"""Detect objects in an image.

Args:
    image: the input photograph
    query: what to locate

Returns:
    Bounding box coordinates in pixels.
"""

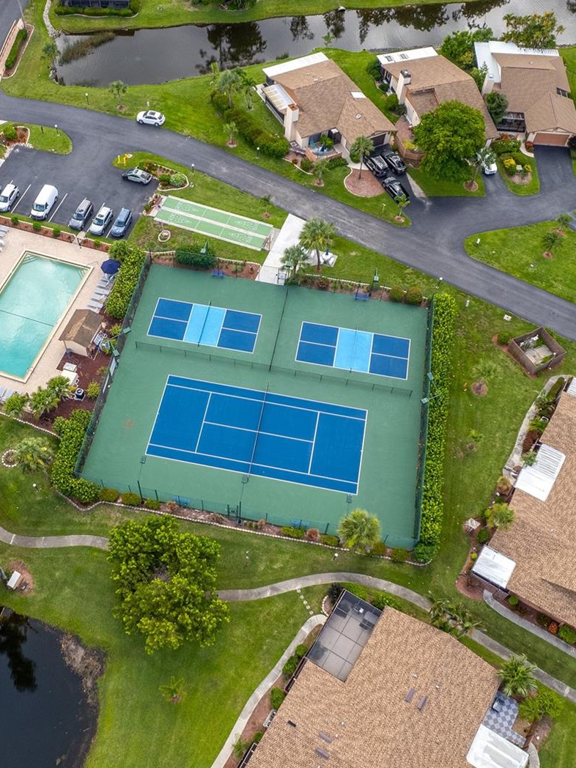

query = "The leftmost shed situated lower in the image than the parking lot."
[58,309,103,355]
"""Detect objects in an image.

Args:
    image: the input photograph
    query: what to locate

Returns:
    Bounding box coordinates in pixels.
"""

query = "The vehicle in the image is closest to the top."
[134,110,167,128]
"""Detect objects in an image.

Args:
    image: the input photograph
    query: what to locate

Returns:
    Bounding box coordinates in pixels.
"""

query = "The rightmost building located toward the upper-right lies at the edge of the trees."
[474,40,576,147]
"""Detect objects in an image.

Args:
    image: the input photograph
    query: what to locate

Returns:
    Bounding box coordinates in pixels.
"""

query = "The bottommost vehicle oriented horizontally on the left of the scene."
[119,167,153,186]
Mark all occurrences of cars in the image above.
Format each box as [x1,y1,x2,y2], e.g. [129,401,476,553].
[134,110,167,128]
[0,180,18,211]
[381,151,409,177]
[384,175,410,199]
[119,167,153,186]
[89,203,113,235]
[69,196,94,229]
[109,205,133,236]
[362,152,390,178]
[479,156,499,179]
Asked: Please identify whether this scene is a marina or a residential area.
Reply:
residential area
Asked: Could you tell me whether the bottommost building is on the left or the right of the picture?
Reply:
right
